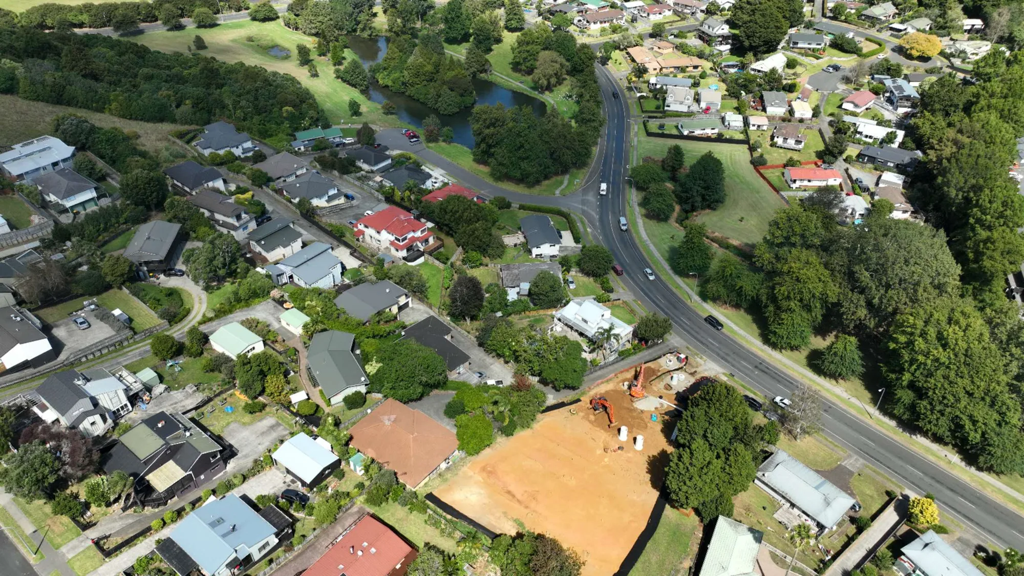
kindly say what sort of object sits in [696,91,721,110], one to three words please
building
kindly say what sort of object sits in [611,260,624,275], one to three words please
vehicle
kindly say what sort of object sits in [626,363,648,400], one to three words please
work vehicle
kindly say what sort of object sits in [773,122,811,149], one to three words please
house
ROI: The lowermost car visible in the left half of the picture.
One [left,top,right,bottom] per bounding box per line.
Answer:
[281,486,306,502]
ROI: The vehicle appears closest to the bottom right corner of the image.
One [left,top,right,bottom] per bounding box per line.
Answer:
[848,496,866,516]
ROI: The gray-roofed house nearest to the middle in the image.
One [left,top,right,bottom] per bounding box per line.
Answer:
[499,263,562,303]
